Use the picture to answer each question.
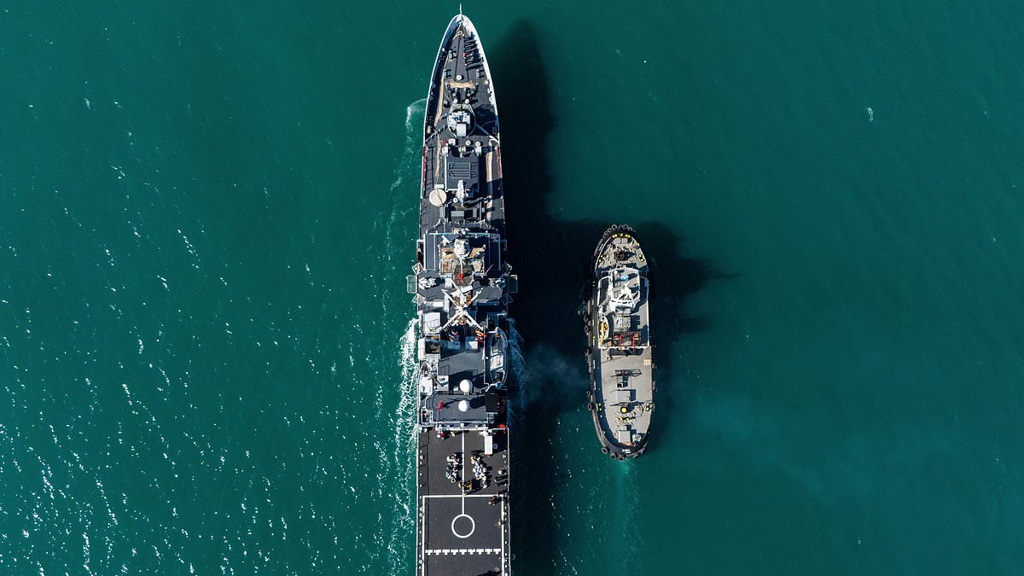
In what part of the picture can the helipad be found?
bottom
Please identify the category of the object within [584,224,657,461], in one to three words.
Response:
boat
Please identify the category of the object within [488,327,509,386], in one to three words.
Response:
boat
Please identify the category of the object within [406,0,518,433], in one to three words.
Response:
ship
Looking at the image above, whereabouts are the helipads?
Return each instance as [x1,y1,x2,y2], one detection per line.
[416,430,511,576]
